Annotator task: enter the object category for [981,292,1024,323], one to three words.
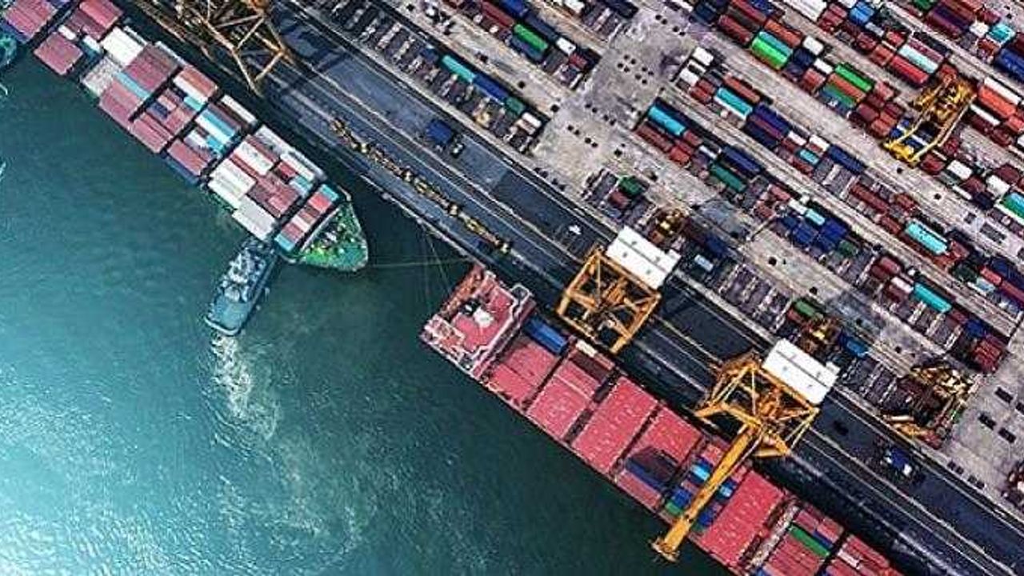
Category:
shipping container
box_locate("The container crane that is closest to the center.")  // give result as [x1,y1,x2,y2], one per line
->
[554,205,684,357]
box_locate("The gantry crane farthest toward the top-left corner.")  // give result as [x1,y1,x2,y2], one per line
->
[134,0,243,56]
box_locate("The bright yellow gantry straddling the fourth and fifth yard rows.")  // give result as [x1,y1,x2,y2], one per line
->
[874,74,972,174]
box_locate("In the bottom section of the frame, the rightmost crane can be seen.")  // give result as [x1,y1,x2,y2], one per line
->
[881,358,985,445]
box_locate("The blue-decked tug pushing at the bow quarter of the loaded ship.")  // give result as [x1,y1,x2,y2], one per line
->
[203,249,283,342]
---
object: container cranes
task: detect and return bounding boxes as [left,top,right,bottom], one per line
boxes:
[649,311,840,567]
[554,205,684,357]
[874,74,972,174]
[134,0,243,56]
[881,358,985,445]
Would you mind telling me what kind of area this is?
port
